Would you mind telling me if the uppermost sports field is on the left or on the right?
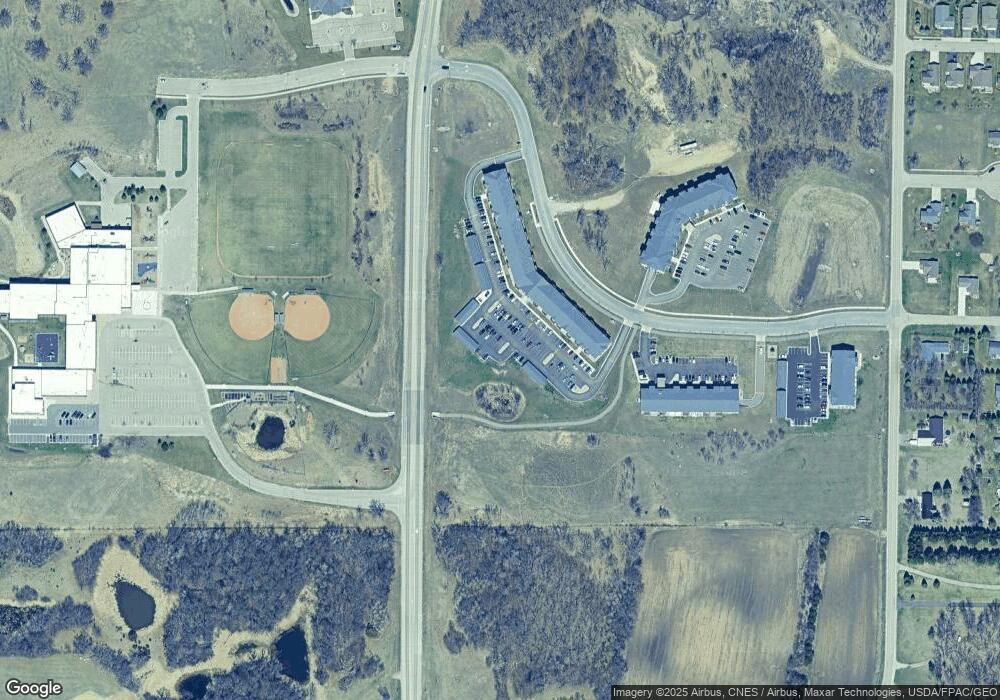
left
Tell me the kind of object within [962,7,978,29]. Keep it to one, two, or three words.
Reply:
house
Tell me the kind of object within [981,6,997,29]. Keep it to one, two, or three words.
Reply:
house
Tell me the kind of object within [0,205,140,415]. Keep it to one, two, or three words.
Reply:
building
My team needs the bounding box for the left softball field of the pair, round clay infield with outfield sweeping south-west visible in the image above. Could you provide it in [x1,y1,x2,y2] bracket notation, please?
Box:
[187,291,275,385]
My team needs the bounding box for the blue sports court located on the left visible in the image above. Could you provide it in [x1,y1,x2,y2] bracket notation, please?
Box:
[35,332,59,363]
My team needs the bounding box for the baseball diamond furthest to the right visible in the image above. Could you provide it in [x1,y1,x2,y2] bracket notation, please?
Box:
[284,291,375,385]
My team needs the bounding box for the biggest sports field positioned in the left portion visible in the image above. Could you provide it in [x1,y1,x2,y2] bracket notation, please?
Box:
[218,140,349,275]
